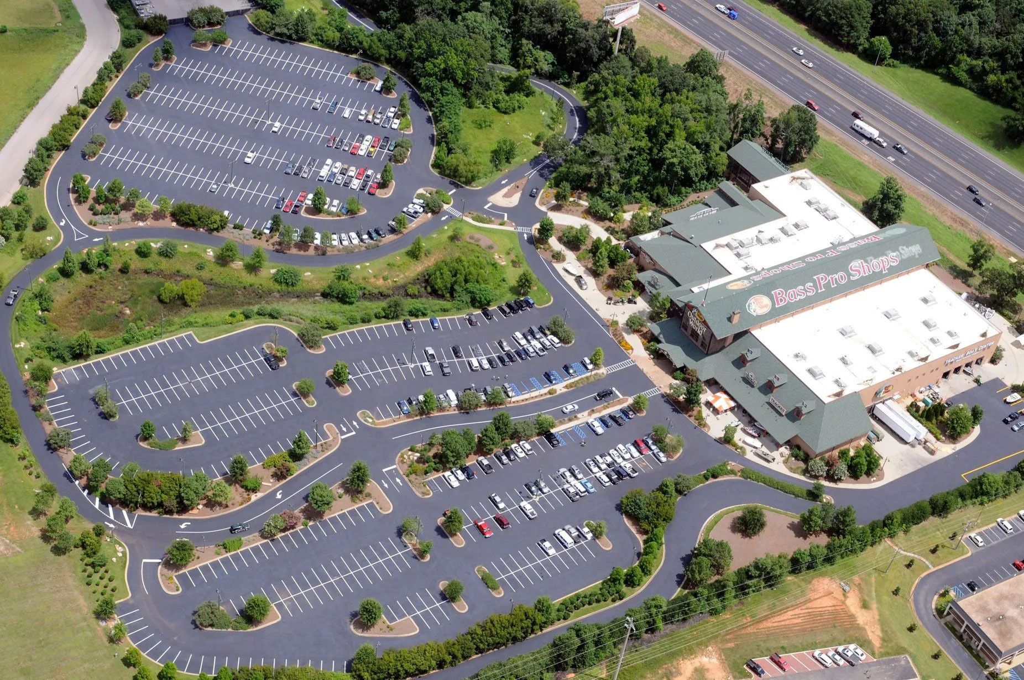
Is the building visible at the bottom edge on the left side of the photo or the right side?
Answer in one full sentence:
The building visible at the bottom edge is on the right side of the image.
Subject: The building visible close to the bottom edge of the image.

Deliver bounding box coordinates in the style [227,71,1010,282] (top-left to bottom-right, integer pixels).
[945,571,1024,671]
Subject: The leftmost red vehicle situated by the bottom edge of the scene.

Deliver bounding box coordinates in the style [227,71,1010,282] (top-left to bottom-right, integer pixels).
[769,653,792,672]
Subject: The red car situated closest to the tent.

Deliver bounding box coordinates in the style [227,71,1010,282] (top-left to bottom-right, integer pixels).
[634,438,649,455]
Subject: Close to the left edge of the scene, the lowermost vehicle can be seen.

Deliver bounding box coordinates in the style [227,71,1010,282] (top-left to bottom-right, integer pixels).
[7,288,19,305]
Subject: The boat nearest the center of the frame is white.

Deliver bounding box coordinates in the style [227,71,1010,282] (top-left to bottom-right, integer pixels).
[559,260,578,275]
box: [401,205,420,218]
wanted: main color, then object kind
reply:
gray vehicle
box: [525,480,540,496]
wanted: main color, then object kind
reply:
gray car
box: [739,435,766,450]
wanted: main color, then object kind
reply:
white boat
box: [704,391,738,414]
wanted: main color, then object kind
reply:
white tent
